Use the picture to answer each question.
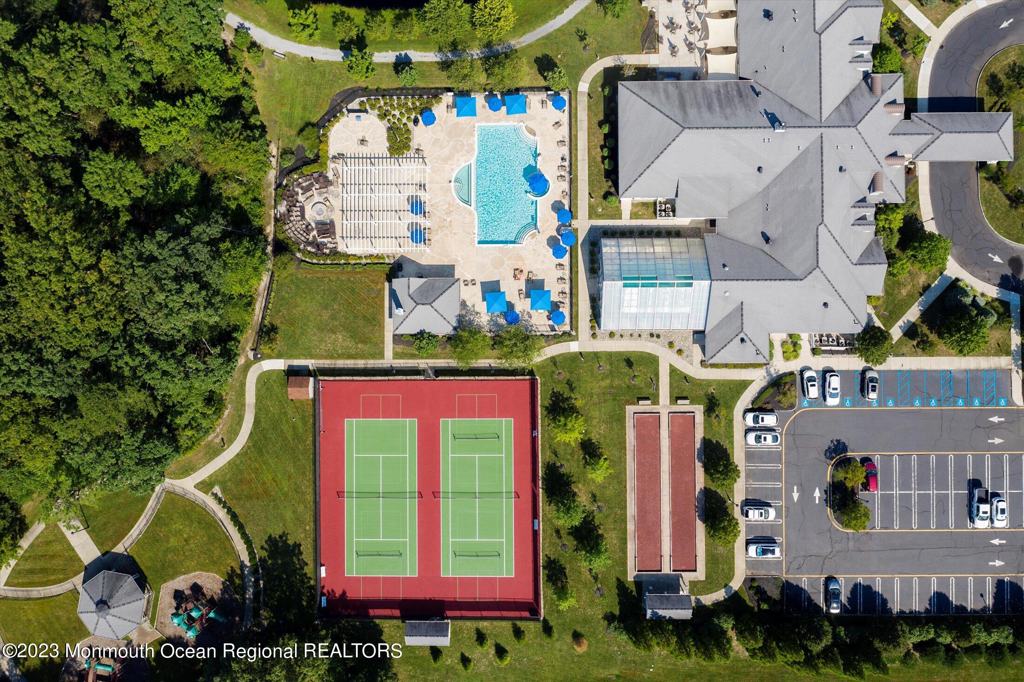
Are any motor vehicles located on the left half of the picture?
No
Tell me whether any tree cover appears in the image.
Yes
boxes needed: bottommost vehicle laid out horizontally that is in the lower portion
[748,544,781,560]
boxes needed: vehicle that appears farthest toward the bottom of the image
[826,578,843,611]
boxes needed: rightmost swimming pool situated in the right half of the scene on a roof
[624,276,691,288]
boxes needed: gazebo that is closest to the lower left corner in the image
[77,566,154,641]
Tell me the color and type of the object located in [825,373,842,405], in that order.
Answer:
white car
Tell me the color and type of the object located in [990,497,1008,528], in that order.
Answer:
white car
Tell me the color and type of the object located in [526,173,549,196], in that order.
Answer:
blue umbrella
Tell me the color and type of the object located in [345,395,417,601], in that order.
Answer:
green tennis court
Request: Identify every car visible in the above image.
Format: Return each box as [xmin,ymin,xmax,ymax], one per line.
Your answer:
[990,497,1008,528]
[826,578,843,611]
[746,431,780,447]
[803,370,820,400]
[863,371,881,400]
[743,506,775,522]
[744,412,778,428]
[825,373,842,405]
[863,462,881,492]
[748,544,781,560]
